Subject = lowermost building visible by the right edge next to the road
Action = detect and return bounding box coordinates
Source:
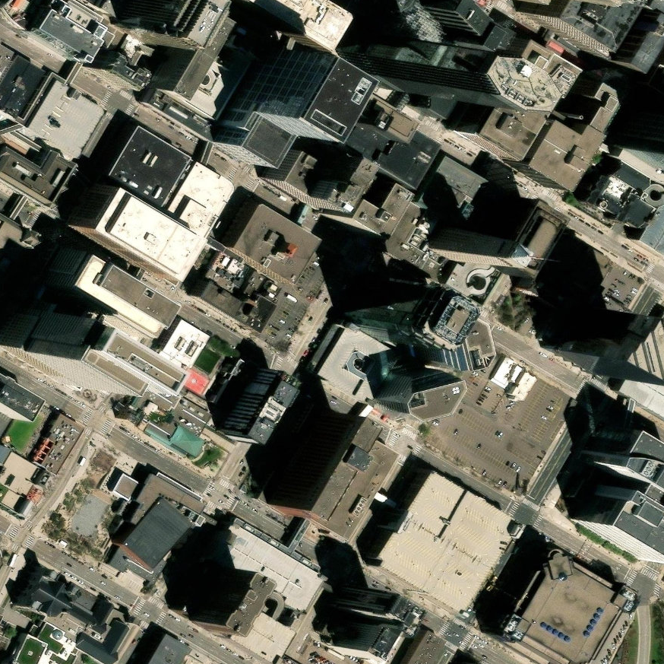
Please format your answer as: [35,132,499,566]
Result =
[486,555,634,664]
